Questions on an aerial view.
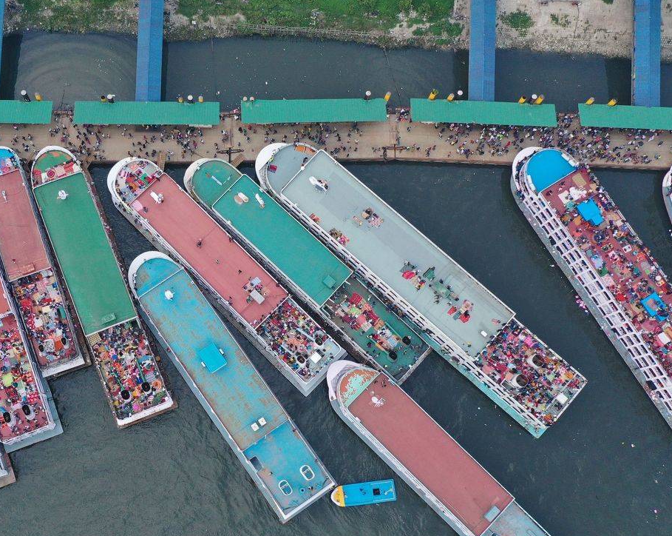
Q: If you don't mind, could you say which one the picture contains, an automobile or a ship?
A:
ship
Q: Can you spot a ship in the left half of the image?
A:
Yes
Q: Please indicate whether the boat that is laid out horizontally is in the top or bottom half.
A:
bottom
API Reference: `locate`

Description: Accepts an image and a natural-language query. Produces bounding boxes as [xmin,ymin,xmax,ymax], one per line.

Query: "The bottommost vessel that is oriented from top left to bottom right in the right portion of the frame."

[321,355,556,536]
